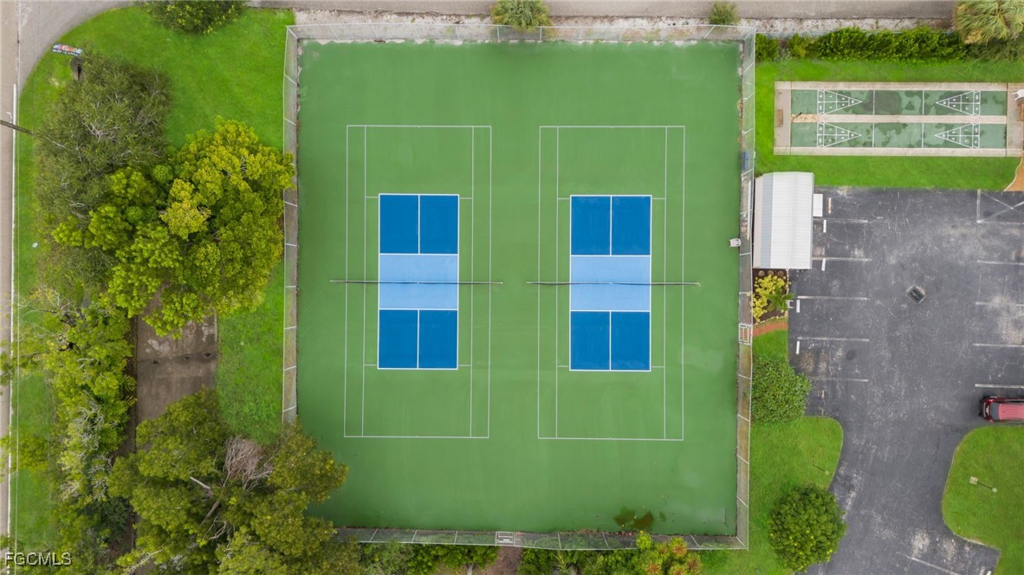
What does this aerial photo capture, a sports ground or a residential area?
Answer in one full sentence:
This looks like a sports ground.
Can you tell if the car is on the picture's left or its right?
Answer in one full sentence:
It is on the right.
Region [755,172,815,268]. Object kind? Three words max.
shed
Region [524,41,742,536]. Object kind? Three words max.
sports court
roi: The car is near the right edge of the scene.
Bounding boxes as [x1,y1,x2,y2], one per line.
[986,396,1024,424]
